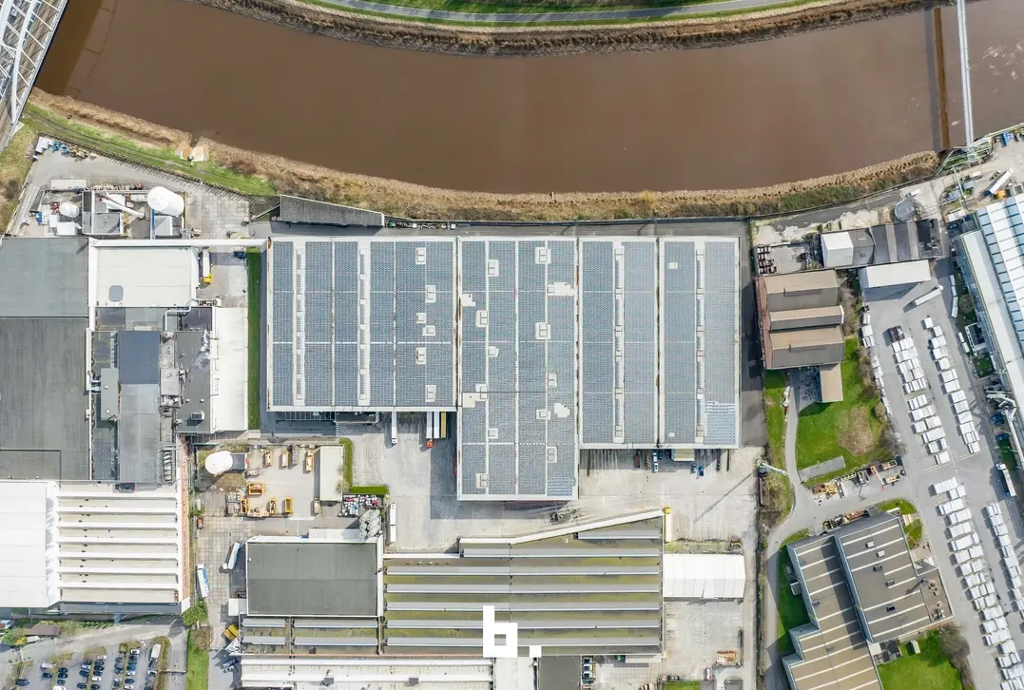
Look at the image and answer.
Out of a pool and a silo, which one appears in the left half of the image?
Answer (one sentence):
Visible in the left half of the image is a silo.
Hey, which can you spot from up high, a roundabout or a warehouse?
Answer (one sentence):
Looking from above, you can make out a warehouse.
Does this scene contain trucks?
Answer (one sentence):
Yes, the image includes a truck.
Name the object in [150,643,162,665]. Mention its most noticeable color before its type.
white vehicle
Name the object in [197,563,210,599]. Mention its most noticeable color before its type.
white vehicle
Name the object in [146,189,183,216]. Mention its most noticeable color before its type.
white silo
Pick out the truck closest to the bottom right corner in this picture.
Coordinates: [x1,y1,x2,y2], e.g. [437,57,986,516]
[992,465,1019,498]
